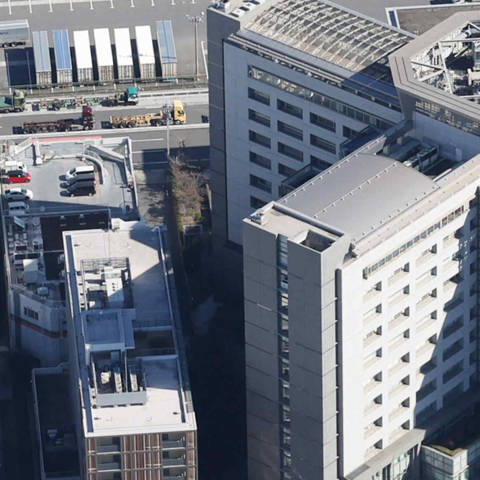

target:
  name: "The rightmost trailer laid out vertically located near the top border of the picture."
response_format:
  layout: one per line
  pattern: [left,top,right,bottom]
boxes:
[155,20,177,81]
